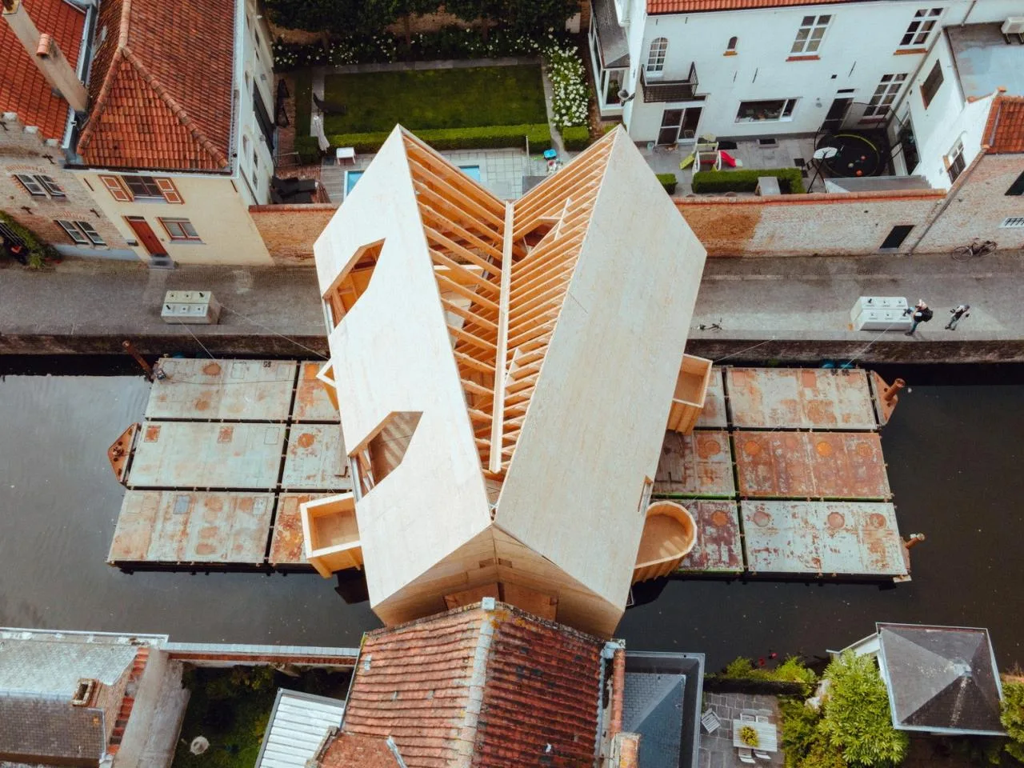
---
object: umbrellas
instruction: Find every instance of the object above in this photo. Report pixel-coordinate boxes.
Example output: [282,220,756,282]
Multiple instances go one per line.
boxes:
[310,110,328,153]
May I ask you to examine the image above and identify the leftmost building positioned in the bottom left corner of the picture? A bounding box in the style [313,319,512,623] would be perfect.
[0,630,188,768]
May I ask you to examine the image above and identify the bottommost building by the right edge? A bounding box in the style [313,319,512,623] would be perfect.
[853,624,1007,736]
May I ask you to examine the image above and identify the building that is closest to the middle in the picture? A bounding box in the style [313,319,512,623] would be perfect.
[298,125,714,640]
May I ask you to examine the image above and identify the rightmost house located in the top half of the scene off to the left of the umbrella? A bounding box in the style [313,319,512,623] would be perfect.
[71,0,274,274]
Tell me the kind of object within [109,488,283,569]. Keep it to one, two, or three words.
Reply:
pier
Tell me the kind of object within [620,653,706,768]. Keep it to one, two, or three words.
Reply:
building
